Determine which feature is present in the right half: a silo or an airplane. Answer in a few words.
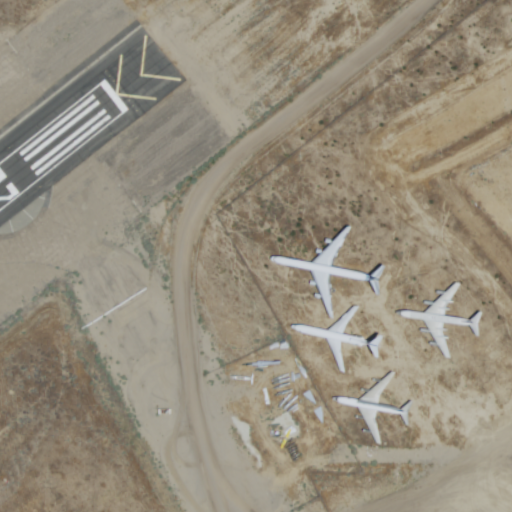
airplane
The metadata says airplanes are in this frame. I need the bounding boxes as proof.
[271,226,385,318]
[242,358,281,368]
[398,282,482,358]
[292,306,383,373]
[333,373,414,446]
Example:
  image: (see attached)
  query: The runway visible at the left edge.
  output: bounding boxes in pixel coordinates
[0,20,186,234]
